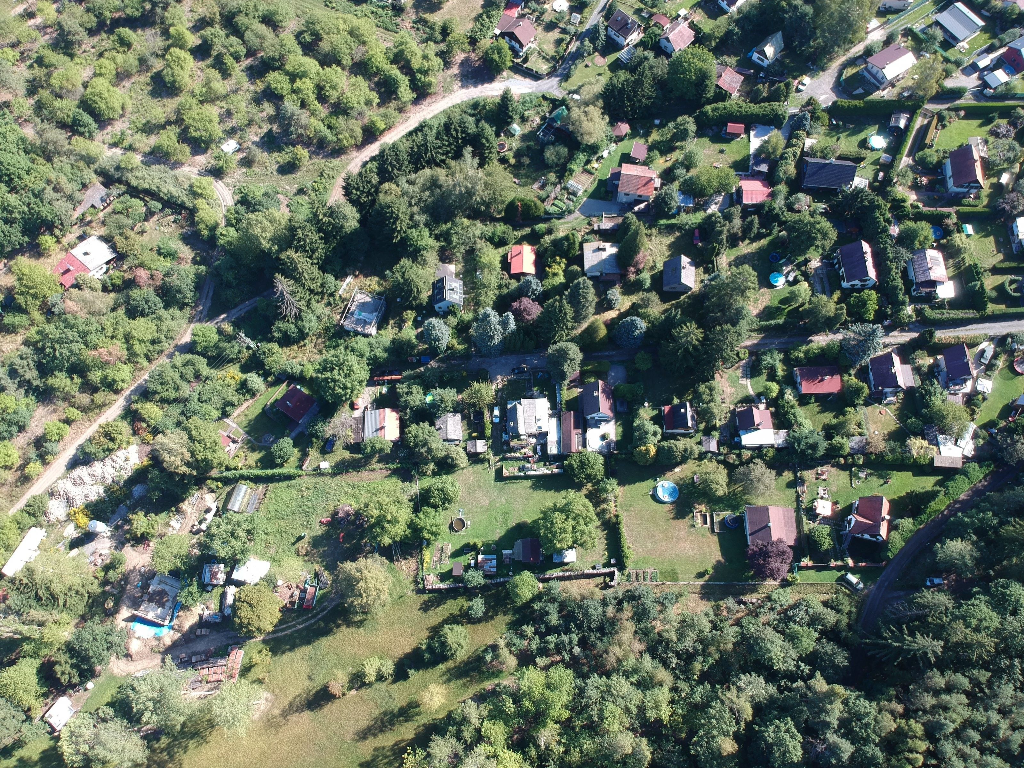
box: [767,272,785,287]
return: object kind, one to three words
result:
swimming pool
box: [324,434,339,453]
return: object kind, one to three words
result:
car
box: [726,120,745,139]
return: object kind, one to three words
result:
shed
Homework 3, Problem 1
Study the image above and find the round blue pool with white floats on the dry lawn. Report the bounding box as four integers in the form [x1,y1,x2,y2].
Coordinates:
[656,481,678,504]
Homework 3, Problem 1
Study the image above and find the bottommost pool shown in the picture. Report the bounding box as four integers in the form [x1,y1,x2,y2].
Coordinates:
[447,514,469,537]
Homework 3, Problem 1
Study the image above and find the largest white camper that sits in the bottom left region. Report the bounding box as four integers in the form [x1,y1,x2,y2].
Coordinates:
[46,697,80,729]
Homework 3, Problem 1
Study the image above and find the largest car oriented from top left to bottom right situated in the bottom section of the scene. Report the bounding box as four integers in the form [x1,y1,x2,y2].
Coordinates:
[841,570,866,592]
